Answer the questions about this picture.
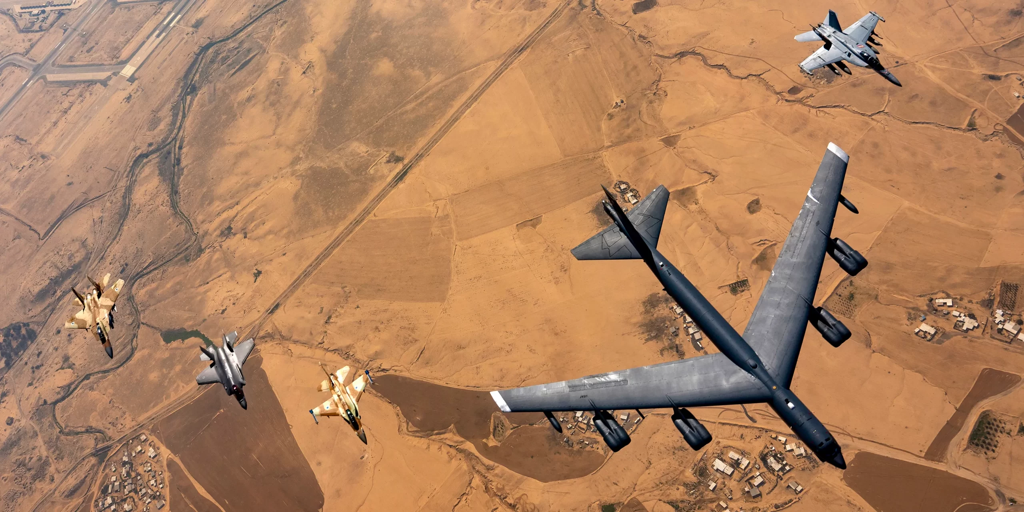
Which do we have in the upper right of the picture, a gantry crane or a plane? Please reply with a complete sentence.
There is a plane in the upper right of the picture.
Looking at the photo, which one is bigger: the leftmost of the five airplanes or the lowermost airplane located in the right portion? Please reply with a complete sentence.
The lowermost airplane located in the right portion is larger than the leftmost of the five airplanes.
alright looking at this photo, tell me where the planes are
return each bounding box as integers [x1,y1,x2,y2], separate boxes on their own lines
[196,331,255,410]
[309,361,374,445]
[489,141,868,470]
[65,273,124,358]
[794,9,902,86]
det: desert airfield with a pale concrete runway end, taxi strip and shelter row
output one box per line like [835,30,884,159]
[0,0,200,159]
